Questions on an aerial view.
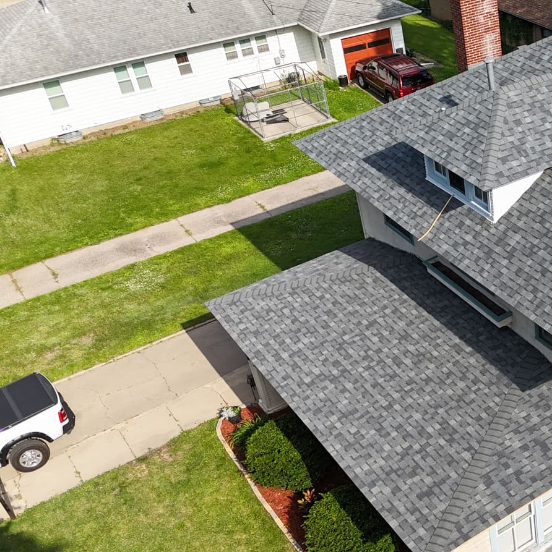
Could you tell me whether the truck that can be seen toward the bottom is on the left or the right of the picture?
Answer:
left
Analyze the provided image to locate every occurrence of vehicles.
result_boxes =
[0,368,88,470]
[349,55,437,103]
